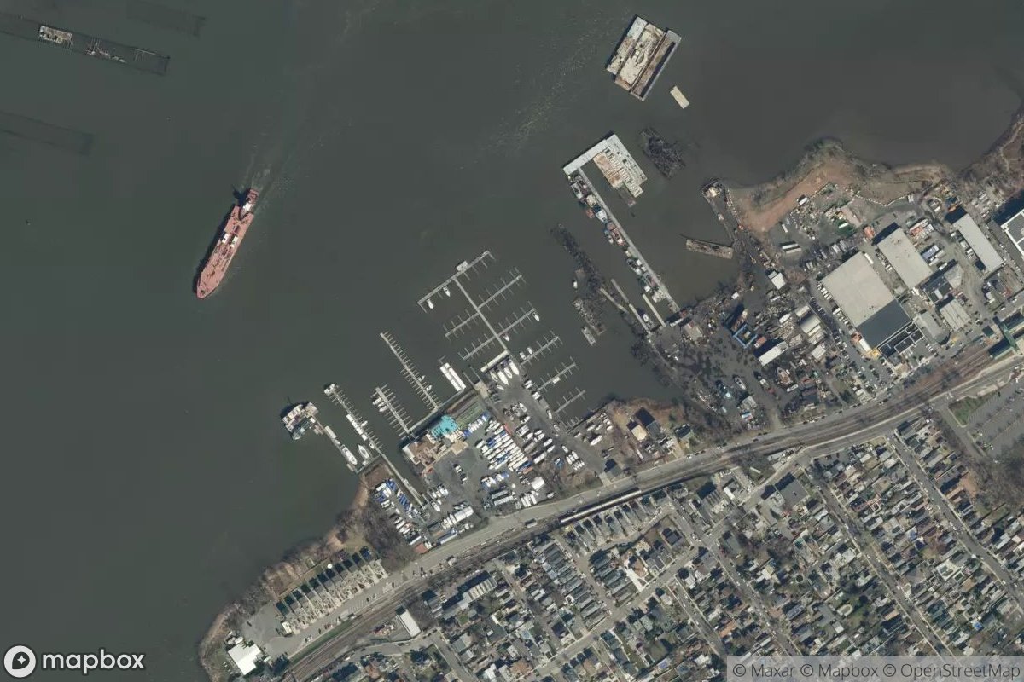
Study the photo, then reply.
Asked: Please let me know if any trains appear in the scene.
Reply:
Yes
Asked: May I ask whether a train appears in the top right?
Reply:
No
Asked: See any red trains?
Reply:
No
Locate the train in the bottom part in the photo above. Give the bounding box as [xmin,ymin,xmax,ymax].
[561,489,640,522]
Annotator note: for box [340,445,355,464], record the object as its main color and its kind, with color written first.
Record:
white ship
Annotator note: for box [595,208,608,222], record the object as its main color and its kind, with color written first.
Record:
white ship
